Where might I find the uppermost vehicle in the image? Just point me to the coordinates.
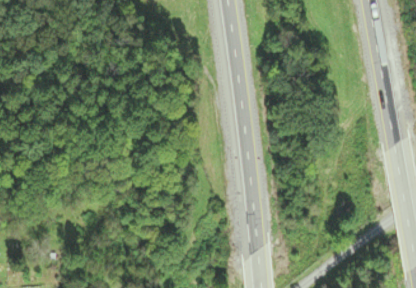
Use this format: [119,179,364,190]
[371,2,388,67]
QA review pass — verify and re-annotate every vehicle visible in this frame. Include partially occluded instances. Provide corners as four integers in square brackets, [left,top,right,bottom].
[371,2,388,67]
[379,90,386,108]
